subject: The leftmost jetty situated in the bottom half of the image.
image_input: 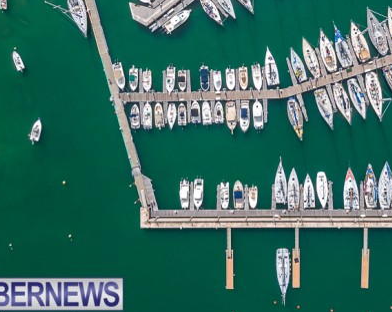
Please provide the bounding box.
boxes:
[132,167,159,210]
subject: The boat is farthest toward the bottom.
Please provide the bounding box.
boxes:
[276,247,291,309]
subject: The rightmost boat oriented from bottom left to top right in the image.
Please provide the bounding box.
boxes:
[165,8,194,35]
